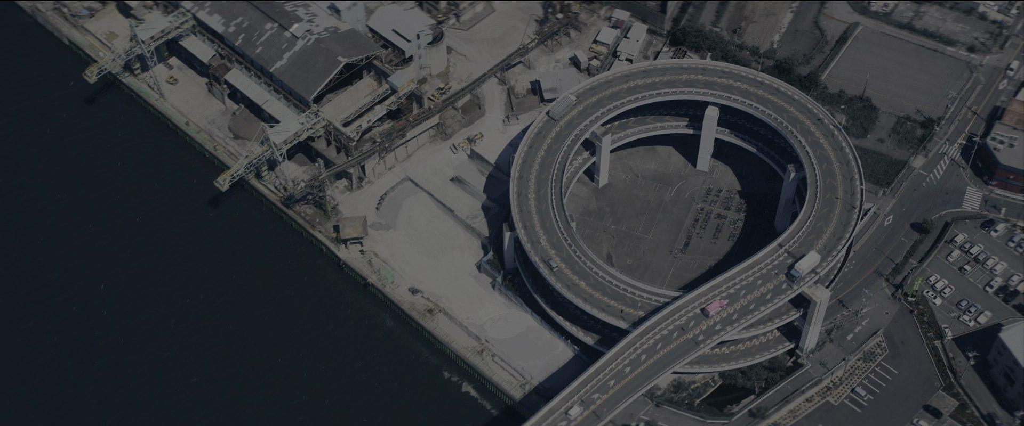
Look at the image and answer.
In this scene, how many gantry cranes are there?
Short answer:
2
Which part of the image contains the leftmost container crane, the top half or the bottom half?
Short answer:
top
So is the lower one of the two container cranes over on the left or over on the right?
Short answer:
left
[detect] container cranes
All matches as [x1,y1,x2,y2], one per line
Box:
[210,104,338,206]
[80,8,204,102]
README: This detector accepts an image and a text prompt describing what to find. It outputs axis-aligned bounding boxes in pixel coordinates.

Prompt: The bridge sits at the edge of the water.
[502,58,871,426]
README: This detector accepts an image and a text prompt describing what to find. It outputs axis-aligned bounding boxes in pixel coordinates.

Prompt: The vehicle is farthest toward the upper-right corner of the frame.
[1008,58,1020,73]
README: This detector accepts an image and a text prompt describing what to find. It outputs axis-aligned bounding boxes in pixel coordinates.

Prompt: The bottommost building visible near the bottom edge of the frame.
[985,322,1024,413]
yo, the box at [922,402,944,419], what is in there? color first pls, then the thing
black car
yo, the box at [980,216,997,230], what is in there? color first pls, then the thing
black car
